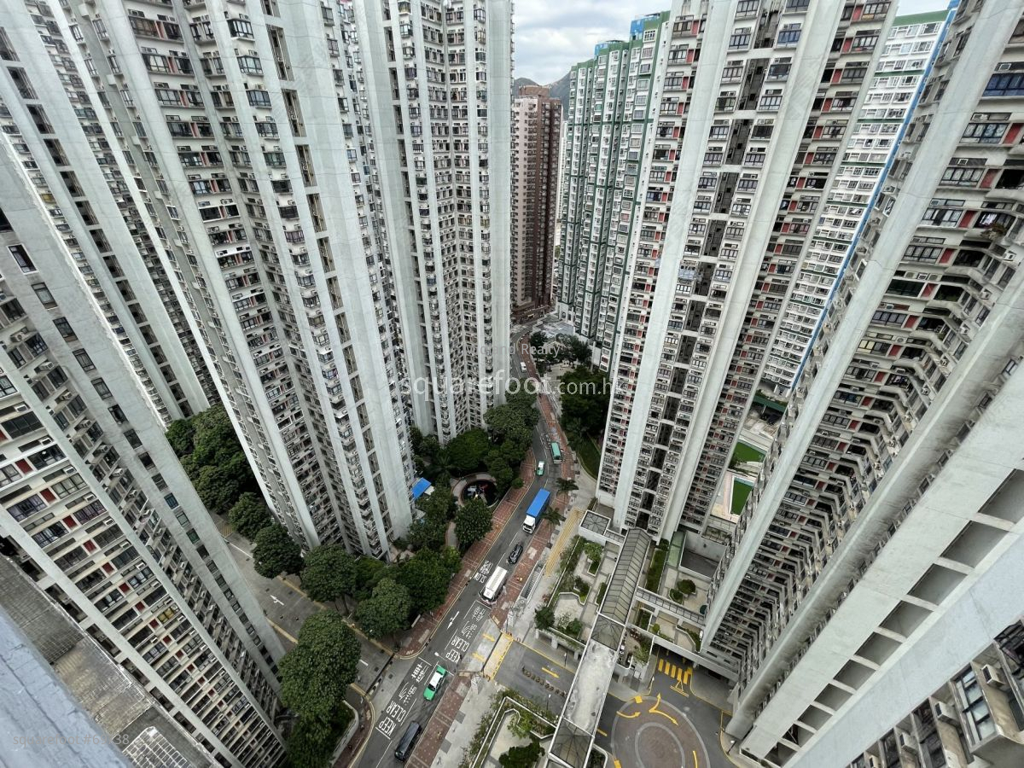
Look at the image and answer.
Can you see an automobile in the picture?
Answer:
Yes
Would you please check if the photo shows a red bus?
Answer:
No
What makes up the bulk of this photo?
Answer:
buildings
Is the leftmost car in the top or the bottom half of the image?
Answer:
bottom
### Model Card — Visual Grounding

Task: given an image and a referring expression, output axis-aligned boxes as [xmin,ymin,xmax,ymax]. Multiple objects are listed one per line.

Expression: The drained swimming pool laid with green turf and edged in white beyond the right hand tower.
[709,465,758,526]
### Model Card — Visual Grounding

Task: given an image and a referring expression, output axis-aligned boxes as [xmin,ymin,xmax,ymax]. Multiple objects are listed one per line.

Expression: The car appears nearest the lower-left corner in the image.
[424,665,448,700]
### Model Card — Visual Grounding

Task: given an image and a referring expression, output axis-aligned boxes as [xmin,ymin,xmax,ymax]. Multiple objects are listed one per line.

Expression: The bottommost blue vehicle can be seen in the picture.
[525,485,552,528]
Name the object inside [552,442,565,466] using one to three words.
vehicle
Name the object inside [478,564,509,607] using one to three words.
bus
